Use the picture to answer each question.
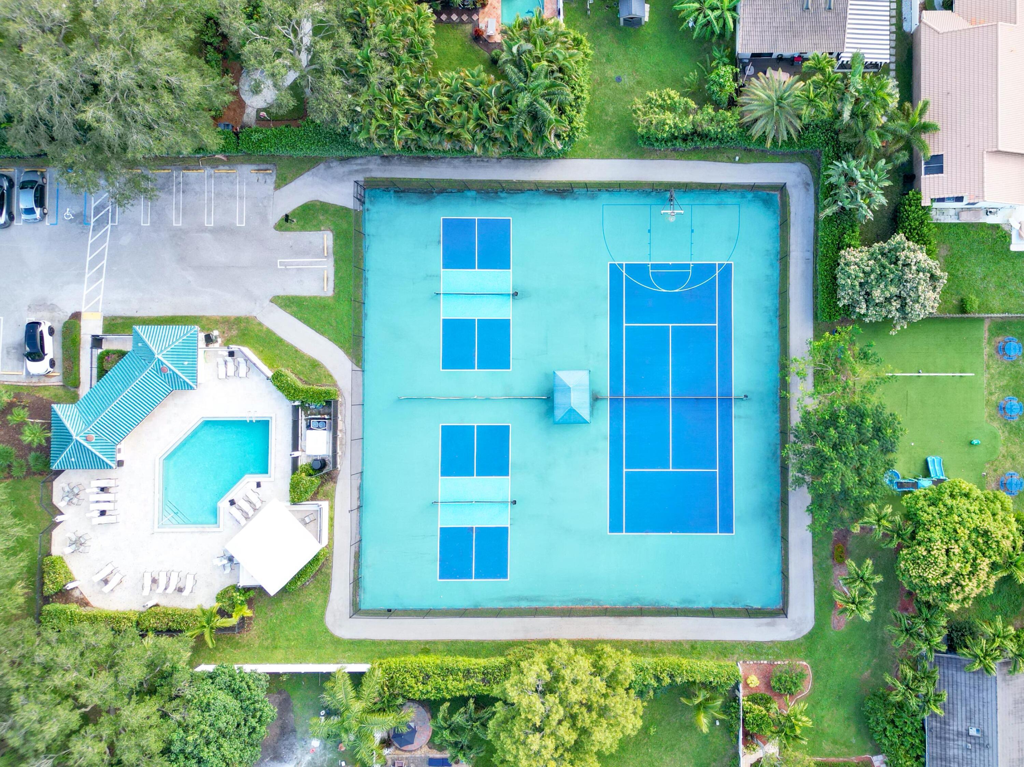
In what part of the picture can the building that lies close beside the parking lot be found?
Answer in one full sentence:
The building that lies close beside the parking lot is located in the left region of the scene.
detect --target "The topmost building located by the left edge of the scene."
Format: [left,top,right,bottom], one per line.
[50,325,209,470]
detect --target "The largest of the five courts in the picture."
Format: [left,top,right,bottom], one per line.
[361,189,782,609]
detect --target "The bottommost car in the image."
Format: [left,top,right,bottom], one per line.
[22,321,54,374]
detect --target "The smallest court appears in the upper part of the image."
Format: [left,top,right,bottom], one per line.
[603,204,739,291]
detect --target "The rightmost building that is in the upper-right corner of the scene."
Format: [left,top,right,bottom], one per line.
[913,0,1024,208]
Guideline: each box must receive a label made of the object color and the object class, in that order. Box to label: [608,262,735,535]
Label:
blue tennis court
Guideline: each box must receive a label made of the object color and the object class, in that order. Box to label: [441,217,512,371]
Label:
blue sports court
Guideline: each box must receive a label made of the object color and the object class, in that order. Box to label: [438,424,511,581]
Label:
blue sports court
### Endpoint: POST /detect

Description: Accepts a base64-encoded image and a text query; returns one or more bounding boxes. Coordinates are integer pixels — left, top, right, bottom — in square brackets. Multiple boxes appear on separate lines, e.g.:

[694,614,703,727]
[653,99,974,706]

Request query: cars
[22,321,54,374]
[0,171,13,226]
[14,168,45,221]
